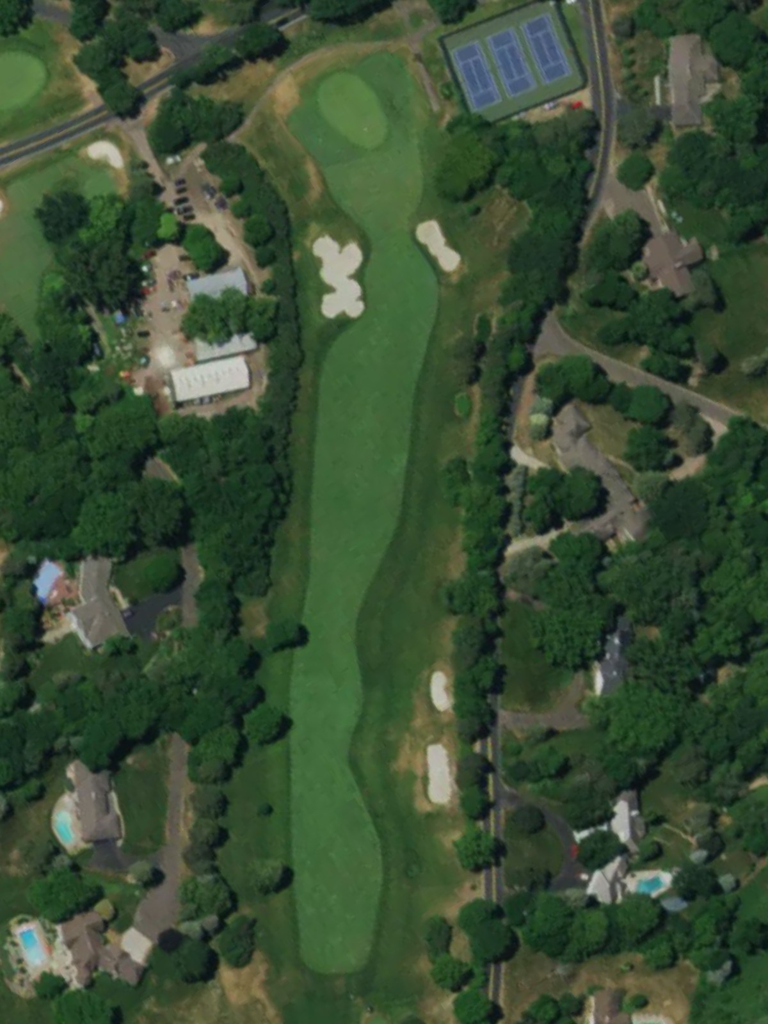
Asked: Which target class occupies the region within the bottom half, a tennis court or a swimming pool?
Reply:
swimming pool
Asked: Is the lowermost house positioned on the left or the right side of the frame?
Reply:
right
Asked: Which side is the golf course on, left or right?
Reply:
left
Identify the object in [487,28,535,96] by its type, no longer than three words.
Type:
tennis court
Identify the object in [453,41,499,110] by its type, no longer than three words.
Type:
tennis court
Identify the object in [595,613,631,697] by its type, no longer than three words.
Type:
house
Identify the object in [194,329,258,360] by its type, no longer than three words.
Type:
shed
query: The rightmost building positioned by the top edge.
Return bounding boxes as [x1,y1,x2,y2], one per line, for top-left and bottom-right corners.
[667,35,723,127]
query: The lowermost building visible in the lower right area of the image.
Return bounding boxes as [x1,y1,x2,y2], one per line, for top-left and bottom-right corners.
[592,988,634,1024]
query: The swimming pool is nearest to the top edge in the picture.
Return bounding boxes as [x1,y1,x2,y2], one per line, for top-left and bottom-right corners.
[34,560,63,605]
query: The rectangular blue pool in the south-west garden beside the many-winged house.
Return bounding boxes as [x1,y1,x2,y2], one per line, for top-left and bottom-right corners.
[13,920,54,980]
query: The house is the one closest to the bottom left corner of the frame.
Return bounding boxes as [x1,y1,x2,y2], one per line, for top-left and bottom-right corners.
[56,904,151,992]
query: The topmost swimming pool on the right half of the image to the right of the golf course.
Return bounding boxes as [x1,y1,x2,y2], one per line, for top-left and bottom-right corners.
[625,870,672,897]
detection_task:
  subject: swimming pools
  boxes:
[52,792,93,855]
[13,920,54,980]
[34,560,63,605]
[631,1016,674,1024]
[625,870,672,897]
